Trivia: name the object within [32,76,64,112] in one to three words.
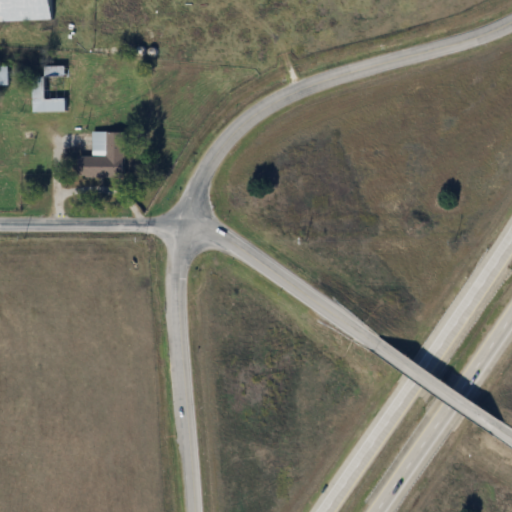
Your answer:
shed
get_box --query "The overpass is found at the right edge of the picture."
[371,336,509,438]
